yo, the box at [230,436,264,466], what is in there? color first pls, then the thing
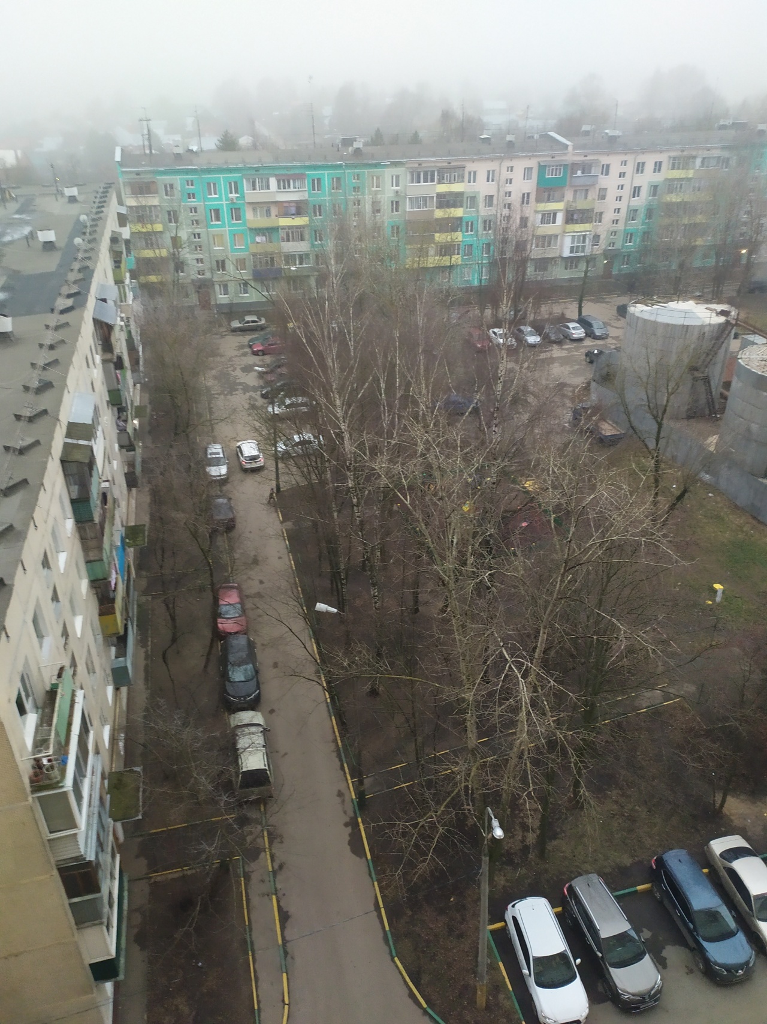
white car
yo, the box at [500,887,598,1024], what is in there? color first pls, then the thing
white car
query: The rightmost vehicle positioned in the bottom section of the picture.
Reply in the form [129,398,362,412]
[706,830,767,947]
